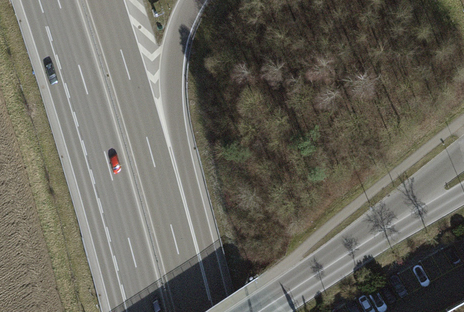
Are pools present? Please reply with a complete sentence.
No, this view has no pool in it.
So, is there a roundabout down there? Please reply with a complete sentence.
No, I find no roundabout anywhere in the image.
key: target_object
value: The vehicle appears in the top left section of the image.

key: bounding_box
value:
[45,61,59,84]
